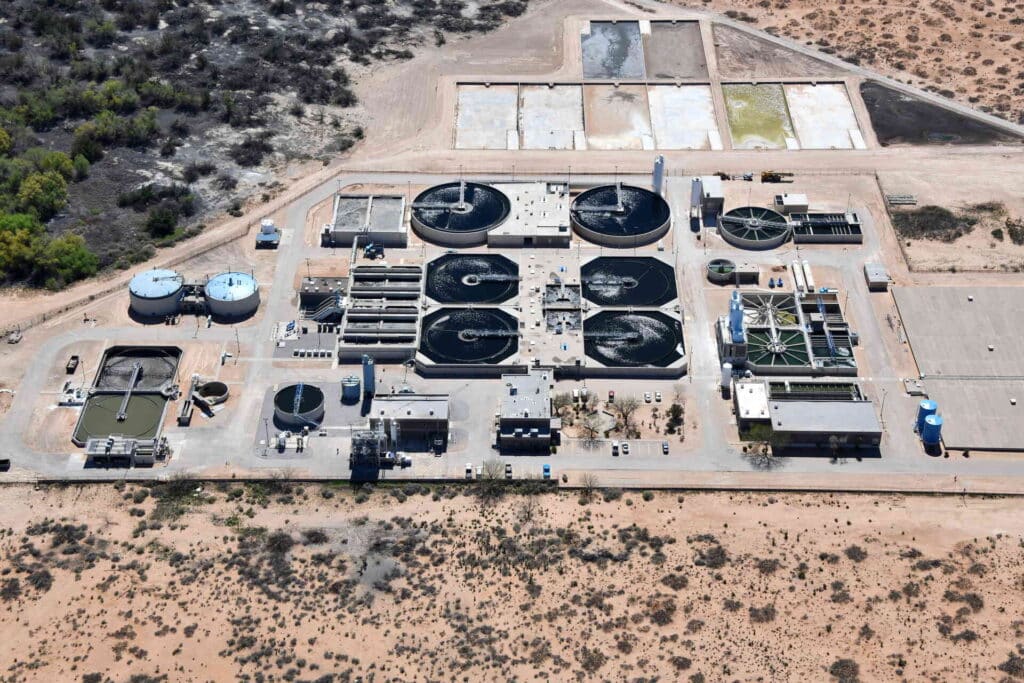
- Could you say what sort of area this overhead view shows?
industrial area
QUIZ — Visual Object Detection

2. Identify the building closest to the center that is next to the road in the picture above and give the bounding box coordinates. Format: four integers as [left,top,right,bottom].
[500,368,561,450]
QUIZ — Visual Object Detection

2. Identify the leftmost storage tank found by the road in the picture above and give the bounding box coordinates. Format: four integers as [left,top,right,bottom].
[129,267,187,318]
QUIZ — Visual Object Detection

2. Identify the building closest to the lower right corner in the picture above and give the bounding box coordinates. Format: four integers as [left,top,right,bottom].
[768,400,882,447]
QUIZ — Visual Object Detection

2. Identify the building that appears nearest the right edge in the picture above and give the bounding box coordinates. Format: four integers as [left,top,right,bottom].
[863,263,893,289]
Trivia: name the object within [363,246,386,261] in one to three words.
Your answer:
vehicle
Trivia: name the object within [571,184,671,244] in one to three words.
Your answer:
storage tank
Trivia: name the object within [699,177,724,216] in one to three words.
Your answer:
shed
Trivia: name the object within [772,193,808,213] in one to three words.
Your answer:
building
